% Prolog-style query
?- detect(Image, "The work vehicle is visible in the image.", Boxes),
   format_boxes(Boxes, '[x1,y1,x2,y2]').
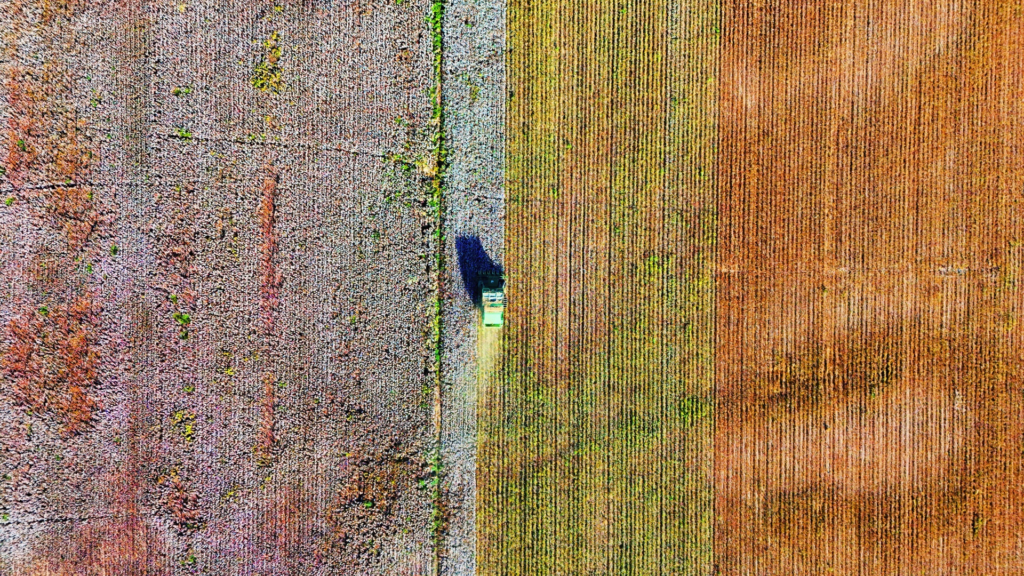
[476,269,508,329]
